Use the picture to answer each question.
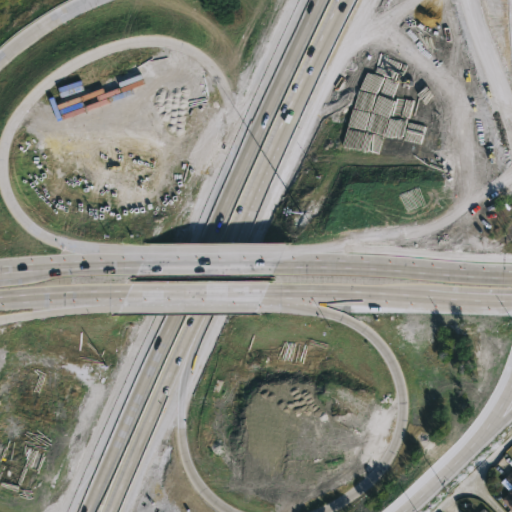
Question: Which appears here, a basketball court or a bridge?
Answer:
bridge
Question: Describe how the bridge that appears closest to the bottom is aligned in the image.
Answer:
horizontally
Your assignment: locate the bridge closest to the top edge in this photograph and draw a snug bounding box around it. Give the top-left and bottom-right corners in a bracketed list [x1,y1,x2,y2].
[136,244,288,276]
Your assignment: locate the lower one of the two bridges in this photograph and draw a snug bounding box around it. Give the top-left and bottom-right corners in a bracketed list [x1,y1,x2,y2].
[119,282,274,315]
